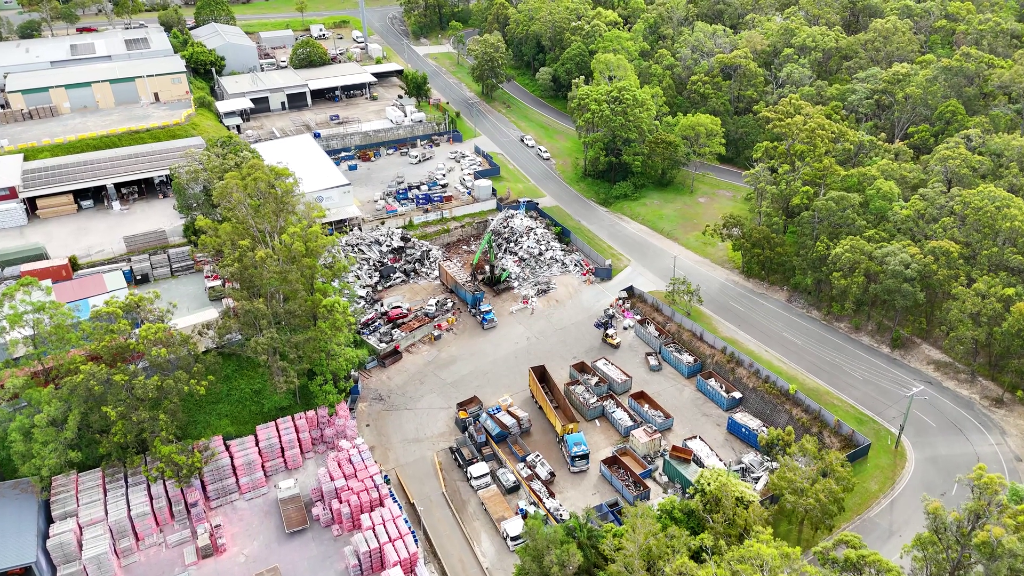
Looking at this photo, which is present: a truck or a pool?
truck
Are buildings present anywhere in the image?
Yes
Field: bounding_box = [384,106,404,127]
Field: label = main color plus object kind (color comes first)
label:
white vehicle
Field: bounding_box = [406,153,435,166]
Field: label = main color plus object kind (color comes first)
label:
white vehicle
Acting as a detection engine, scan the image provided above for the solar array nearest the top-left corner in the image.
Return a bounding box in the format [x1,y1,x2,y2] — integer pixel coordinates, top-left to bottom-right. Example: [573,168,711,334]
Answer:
[70,41,96,55]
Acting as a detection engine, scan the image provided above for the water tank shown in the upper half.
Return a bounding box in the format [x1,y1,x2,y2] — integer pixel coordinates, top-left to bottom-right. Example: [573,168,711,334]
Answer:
[472,178,493,203]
